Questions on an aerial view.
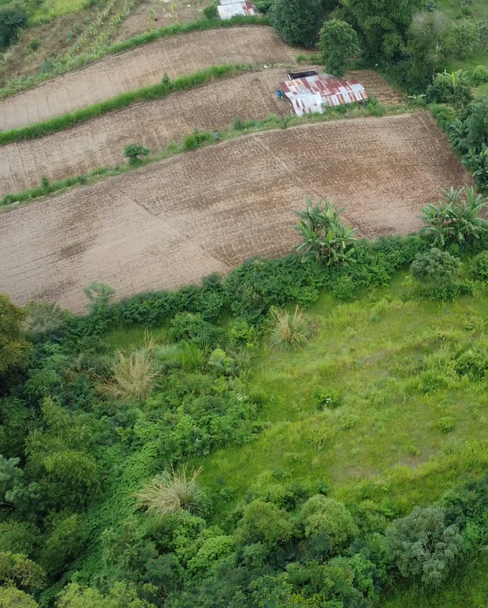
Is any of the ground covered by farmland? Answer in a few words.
Yes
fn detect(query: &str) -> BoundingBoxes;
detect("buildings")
[280,77,369,118]
[217,0,255,19]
